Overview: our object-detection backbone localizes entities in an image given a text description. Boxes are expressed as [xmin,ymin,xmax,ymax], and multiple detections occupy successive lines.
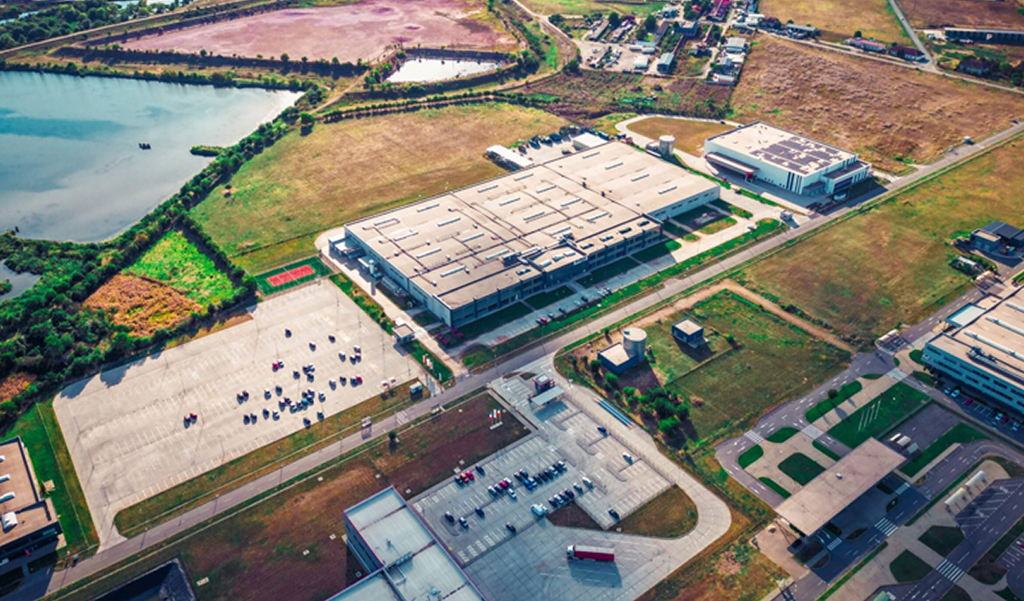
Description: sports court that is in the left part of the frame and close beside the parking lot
[253,253,331,295]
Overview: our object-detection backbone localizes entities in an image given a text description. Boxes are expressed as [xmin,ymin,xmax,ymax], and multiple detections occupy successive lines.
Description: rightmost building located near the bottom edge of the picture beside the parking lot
[317,483,494,601]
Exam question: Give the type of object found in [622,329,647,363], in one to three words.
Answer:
water tank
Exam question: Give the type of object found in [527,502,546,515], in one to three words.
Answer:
vehicle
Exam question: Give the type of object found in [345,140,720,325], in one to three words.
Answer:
building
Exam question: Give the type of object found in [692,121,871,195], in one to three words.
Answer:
building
